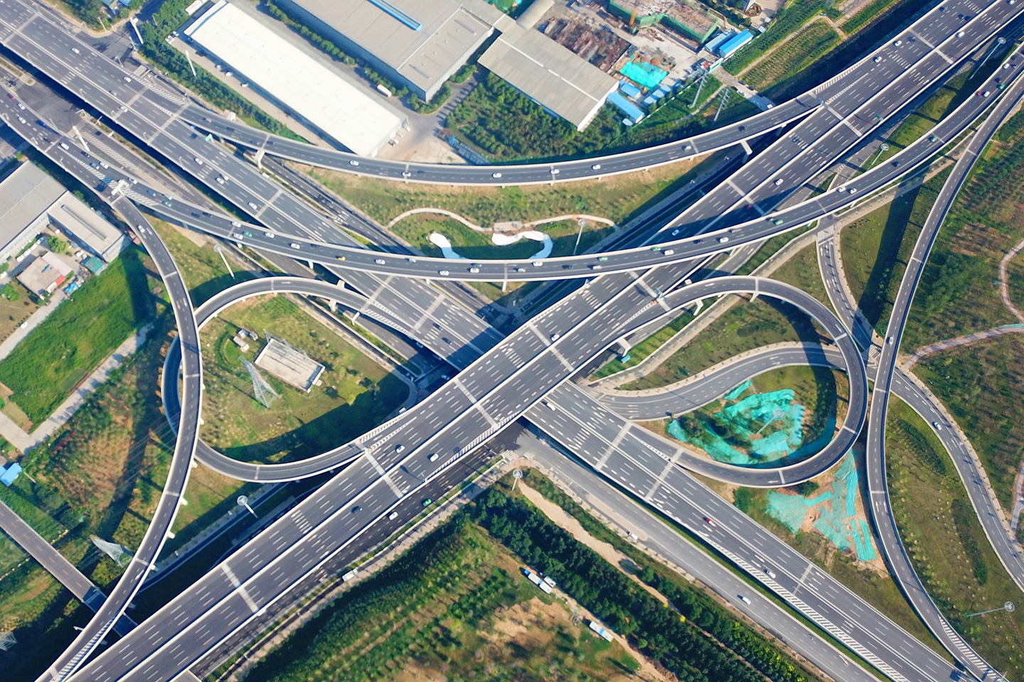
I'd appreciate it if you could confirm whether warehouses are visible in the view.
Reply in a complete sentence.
Yes, the picture does show a warehouse.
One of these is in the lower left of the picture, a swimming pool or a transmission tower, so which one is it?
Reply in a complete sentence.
There is a transmission tower in the lower left of the picture.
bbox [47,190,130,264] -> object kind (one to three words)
building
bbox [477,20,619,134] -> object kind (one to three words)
warehouse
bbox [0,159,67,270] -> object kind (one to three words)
building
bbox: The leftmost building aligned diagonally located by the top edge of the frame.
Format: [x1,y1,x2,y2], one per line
[184,0,401,157]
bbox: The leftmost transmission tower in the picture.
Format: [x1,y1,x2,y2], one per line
[0,623,25,657]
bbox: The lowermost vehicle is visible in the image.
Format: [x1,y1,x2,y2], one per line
[587,620,616,644]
